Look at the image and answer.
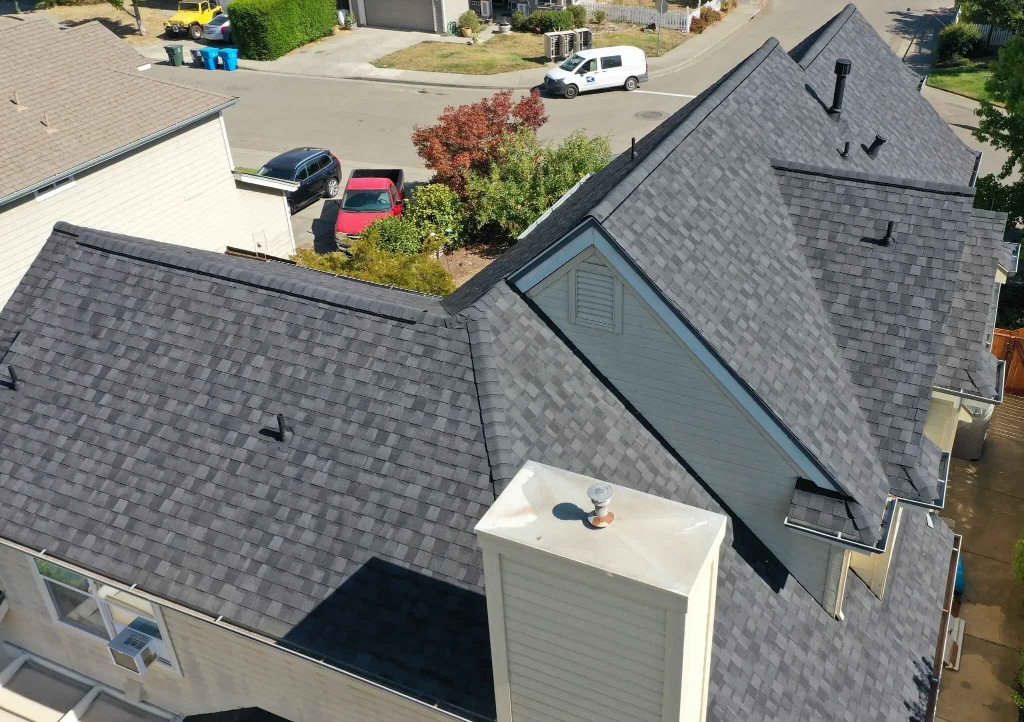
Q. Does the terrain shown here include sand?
No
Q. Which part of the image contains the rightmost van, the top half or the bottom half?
top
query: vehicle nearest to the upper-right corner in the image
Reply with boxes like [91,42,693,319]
[538,43,652,99]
